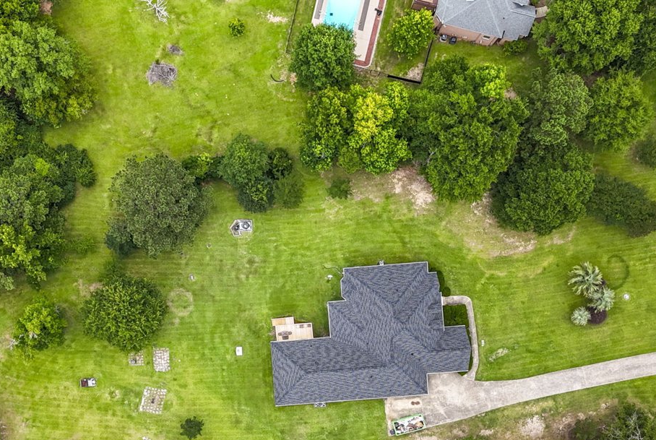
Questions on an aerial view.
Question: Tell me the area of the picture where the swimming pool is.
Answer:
top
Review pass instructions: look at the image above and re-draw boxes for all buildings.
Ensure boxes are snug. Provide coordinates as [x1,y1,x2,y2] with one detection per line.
[271,261,470,406]
[431,0,541,49]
